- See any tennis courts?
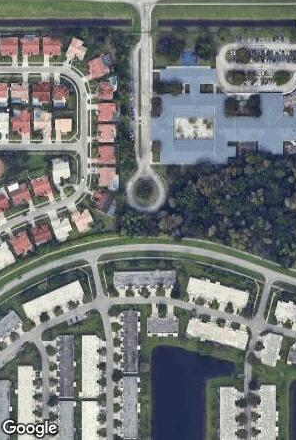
No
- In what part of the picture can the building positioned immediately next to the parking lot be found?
top right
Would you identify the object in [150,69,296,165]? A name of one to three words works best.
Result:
building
